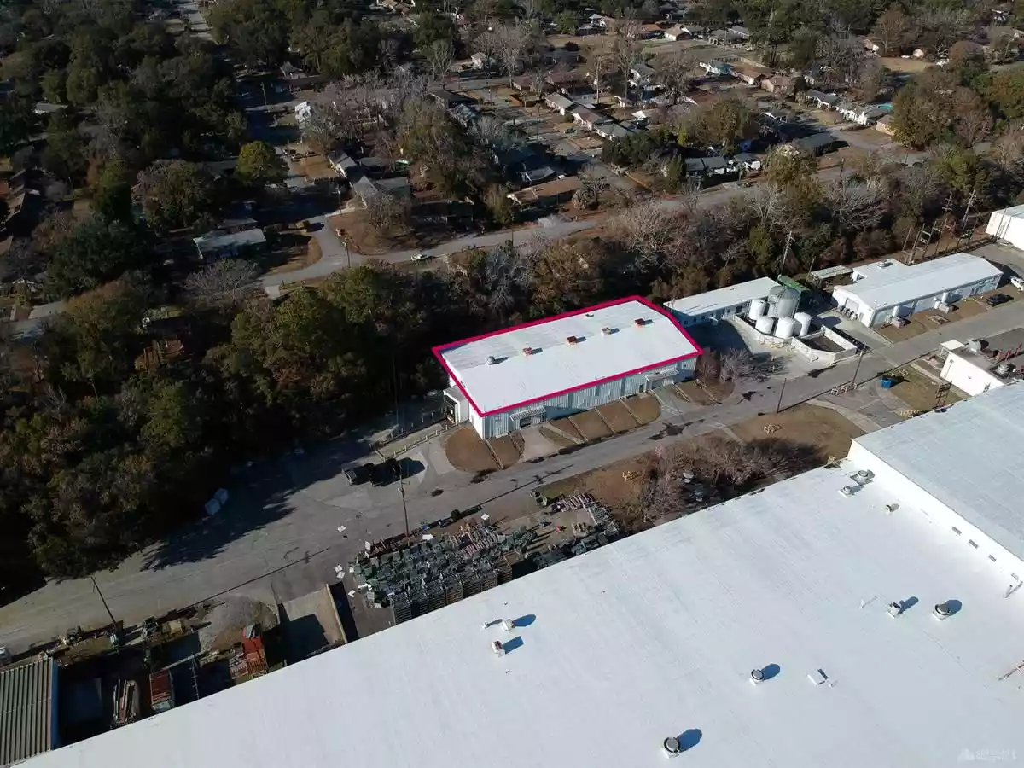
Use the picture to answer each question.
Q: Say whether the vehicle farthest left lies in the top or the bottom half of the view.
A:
bottom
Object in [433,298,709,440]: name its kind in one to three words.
building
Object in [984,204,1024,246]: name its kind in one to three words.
building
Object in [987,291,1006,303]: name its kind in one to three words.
vehicle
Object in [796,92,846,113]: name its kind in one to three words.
house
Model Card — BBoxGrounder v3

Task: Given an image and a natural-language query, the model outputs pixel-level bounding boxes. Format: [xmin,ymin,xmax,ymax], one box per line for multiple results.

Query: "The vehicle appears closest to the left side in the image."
[0,638,27,662]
